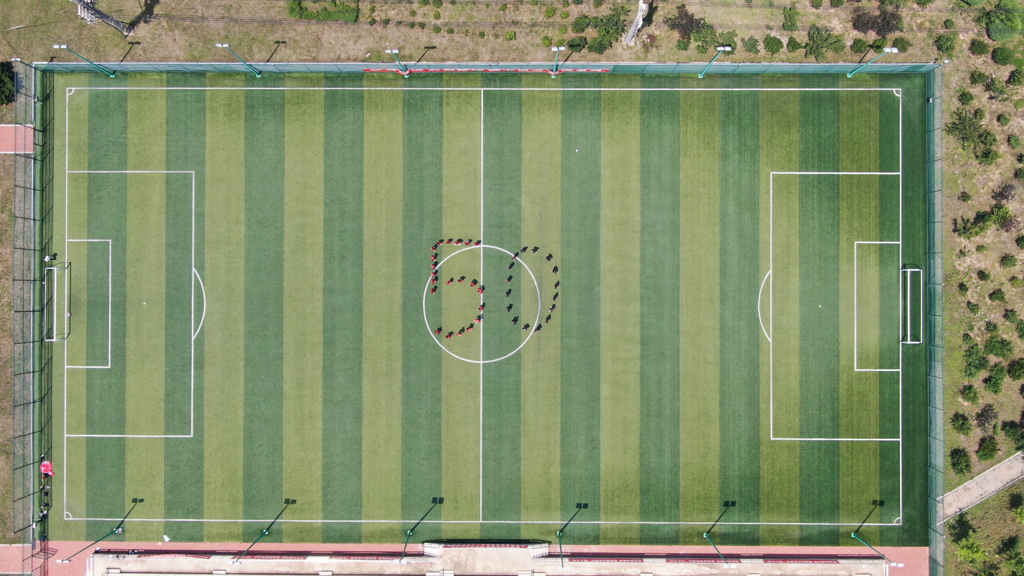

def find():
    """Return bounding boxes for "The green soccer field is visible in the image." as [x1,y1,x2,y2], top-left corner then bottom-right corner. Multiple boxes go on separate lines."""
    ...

[31,64,933,547]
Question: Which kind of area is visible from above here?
sports ground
